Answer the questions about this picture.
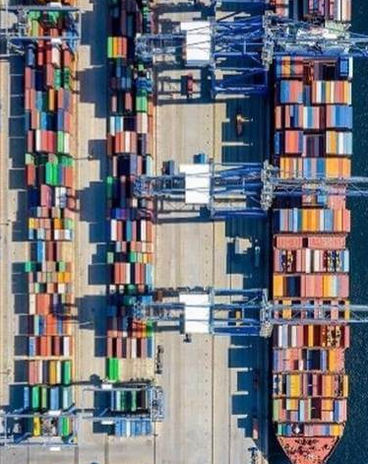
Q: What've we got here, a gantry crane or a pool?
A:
gantry crane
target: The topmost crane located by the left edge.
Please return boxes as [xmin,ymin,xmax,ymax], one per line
[7,0,89,44]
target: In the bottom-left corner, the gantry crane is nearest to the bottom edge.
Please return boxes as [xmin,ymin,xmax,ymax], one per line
[5,407,85,451]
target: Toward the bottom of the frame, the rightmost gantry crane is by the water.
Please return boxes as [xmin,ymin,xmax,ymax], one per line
[137,282,368,344]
